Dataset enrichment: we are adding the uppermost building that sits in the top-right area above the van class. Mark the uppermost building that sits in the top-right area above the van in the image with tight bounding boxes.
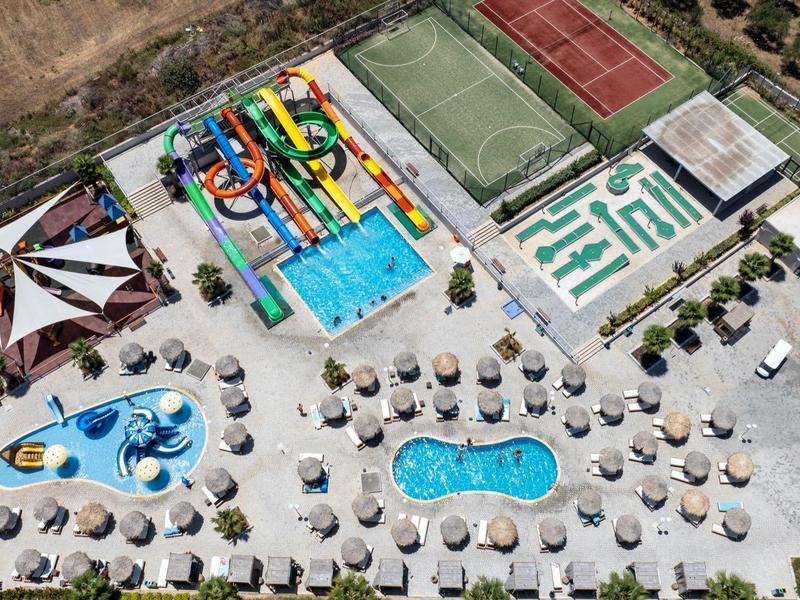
[641,95,788,214]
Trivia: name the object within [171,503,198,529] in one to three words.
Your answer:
umbrella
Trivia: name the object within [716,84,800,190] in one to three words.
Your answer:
sports court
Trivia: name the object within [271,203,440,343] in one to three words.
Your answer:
swimming pool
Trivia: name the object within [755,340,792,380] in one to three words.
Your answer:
van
